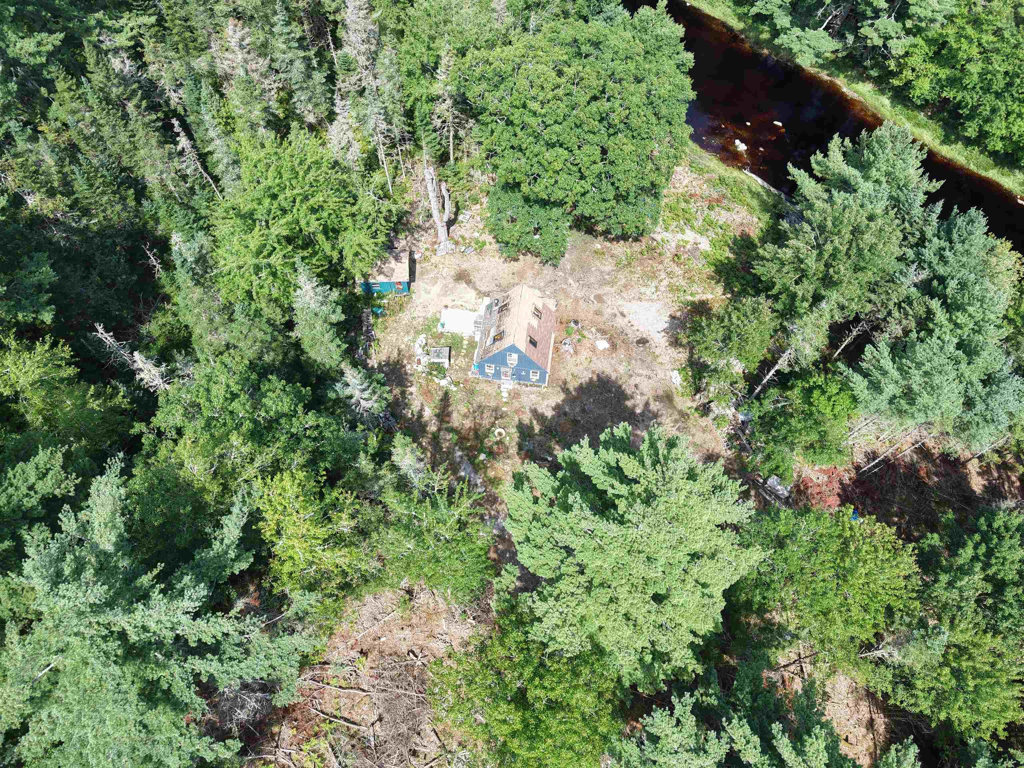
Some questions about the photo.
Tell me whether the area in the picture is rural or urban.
rural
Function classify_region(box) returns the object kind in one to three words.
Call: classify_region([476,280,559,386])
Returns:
house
